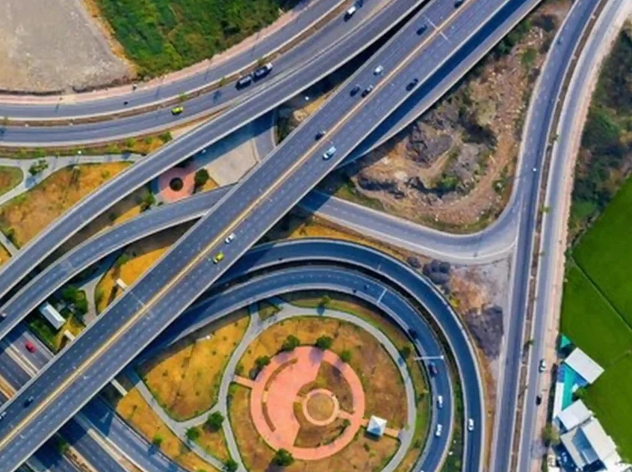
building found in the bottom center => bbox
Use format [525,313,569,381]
[365,415,386,437]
